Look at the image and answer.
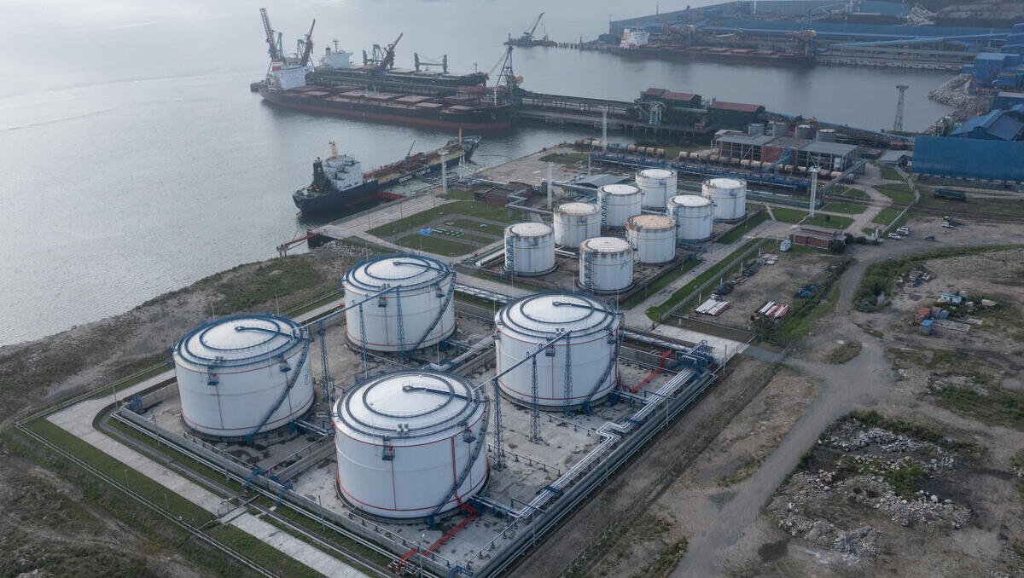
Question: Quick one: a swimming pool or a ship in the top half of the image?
ship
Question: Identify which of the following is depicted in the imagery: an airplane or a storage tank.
storage tank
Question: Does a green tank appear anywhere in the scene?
No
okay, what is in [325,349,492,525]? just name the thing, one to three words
storage tank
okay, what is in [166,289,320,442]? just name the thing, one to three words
storage tank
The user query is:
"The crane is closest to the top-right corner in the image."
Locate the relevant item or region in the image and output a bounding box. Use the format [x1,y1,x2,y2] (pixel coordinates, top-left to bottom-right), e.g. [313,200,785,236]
[502,8,557,47]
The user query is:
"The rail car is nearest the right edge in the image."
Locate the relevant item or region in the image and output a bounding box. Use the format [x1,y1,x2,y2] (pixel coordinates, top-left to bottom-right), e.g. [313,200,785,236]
[934,187,966,202]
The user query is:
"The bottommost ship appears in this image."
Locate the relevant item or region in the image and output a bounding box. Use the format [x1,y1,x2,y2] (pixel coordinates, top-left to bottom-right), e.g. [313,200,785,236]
[285,118,474,209]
